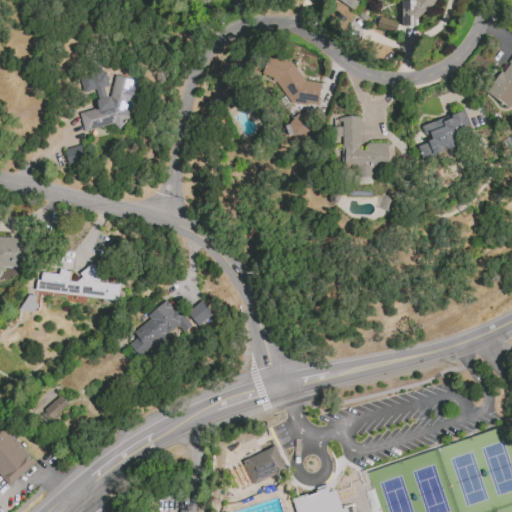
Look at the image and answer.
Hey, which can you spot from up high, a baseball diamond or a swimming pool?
swimming pool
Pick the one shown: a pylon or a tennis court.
tennis court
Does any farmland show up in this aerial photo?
No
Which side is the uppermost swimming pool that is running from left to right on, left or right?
right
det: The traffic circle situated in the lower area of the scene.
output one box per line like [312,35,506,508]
[291,424,332,485]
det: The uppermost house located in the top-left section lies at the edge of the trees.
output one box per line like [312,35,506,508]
[80,70,134,130]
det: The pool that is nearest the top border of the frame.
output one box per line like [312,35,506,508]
[230,106,261,137]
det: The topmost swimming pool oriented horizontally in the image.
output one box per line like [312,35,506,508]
[336,194,392,220]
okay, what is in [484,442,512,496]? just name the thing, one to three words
tennis court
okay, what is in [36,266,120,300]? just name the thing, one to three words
house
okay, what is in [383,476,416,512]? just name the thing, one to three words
tennis court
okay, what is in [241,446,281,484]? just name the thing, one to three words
building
